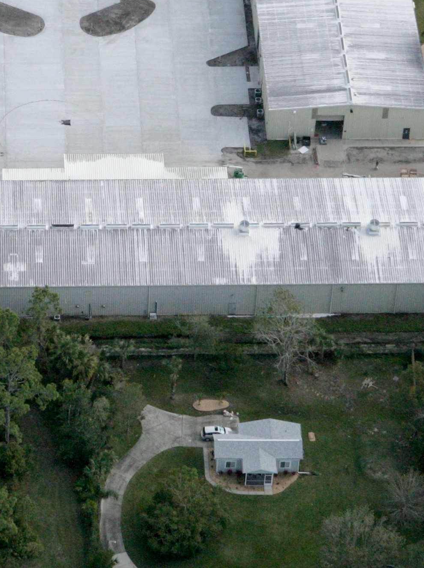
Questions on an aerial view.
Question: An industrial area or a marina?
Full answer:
The area seen from above is an industrial area.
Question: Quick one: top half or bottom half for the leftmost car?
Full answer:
You can find the leftmost car in the bottom half.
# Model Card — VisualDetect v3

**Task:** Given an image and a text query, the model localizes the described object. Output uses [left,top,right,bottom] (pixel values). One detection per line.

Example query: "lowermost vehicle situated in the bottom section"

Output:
[199,423,236,443]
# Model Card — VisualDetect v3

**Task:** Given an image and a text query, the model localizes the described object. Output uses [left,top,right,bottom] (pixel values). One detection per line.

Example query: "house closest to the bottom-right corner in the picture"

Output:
[213,417,312,486]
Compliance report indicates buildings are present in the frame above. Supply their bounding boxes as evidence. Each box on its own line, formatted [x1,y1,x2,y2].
[0,176,424,318]
[251,0,424,140]
[213,417,312,486]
